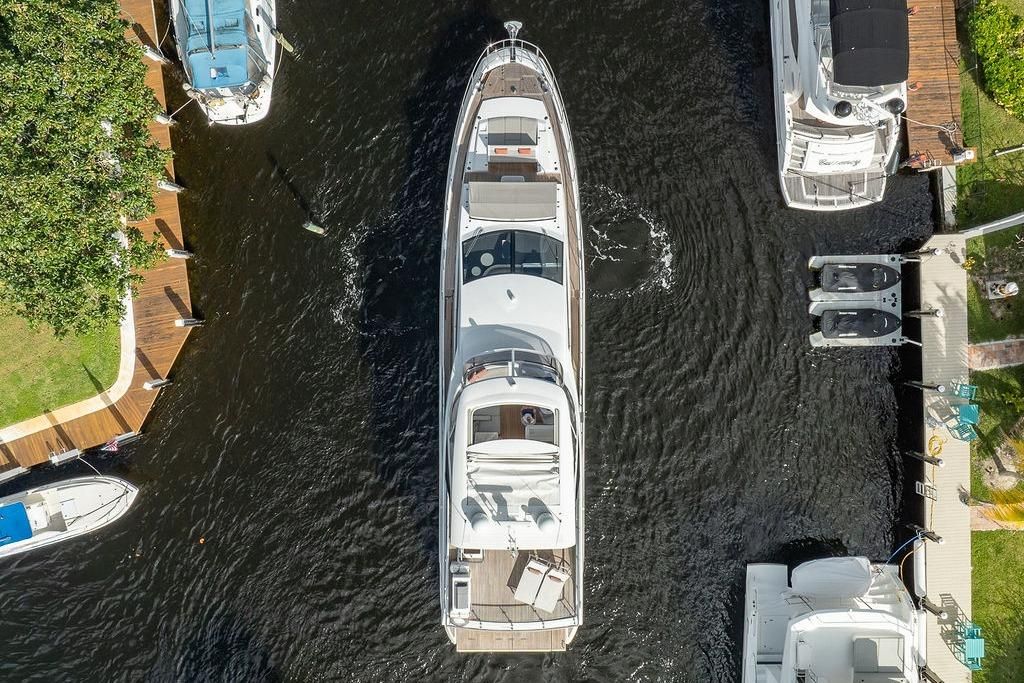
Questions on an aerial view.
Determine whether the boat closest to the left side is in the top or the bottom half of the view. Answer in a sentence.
The bottom half of the photo is where the boat closest to the left side is.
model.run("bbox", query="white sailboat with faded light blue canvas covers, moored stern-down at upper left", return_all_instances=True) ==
[171,0,280,127]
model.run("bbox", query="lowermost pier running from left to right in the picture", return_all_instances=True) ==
[806,301,900,347]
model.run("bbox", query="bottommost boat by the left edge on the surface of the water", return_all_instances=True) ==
[0,474,143,557]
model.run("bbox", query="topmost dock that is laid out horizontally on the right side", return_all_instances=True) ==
[806,256,900,302]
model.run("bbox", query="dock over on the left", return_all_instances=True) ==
[0,0,196,473]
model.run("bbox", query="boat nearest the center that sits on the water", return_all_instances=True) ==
[440,23,585,652]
